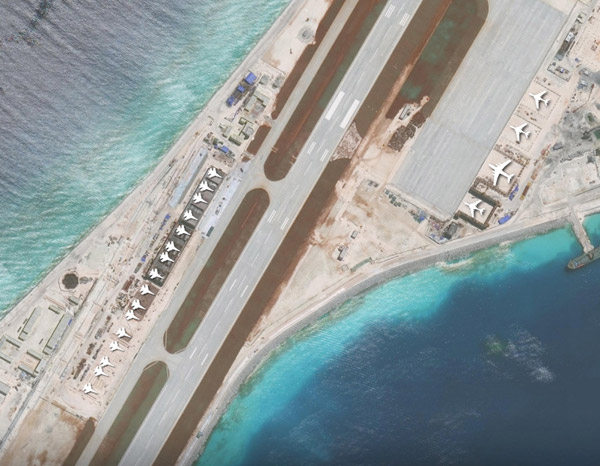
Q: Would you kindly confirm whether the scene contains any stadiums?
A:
No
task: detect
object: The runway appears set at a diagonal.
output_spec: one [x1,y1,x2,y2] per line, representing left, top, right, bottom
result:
[118,0,422,466]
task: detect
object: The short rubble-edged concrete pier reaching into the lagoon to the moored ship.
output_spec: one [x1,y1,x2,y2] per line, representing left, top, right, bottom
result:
[571,216,594,253]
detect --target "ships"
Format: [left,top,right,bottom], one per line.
[570,248,600,269]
